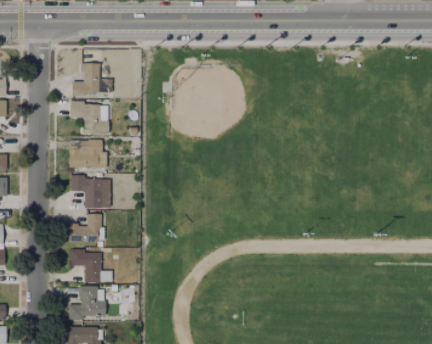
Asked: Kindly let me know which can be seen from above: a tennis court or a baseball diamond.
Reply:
baseball diamond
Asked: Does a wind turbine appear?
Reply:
No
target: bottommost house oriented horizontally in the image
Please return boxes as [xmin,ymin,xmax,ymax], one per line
[68,328,104,344]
